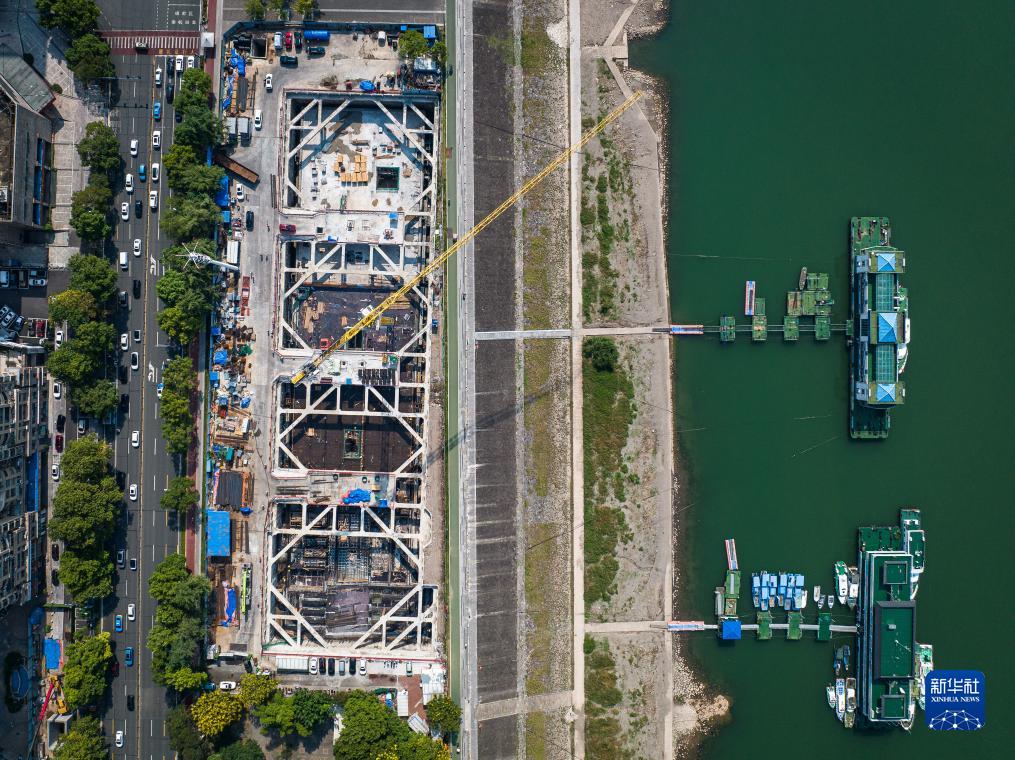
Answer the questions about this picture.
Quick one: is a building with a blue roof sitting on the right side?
Yes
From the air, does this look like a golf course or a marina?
marina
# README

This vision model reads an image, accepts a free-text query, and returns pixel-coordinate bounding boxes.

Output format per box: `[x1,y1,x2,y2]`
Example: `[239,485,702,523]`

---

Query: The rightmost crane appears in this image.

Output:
[283,91,641,388]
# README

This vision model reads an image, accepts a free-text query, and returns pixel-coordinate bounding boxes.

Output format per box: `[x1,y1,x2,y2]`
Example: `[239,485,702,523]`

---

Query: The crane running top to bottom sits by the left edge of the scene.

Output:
[40,675,71,760]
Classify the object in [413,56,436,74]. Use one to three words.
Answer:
shed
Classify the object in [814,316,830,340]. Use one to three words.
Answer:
pier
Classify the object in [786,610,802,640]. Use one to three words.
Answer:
pier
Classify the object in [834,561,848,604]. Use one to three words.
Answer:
boat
